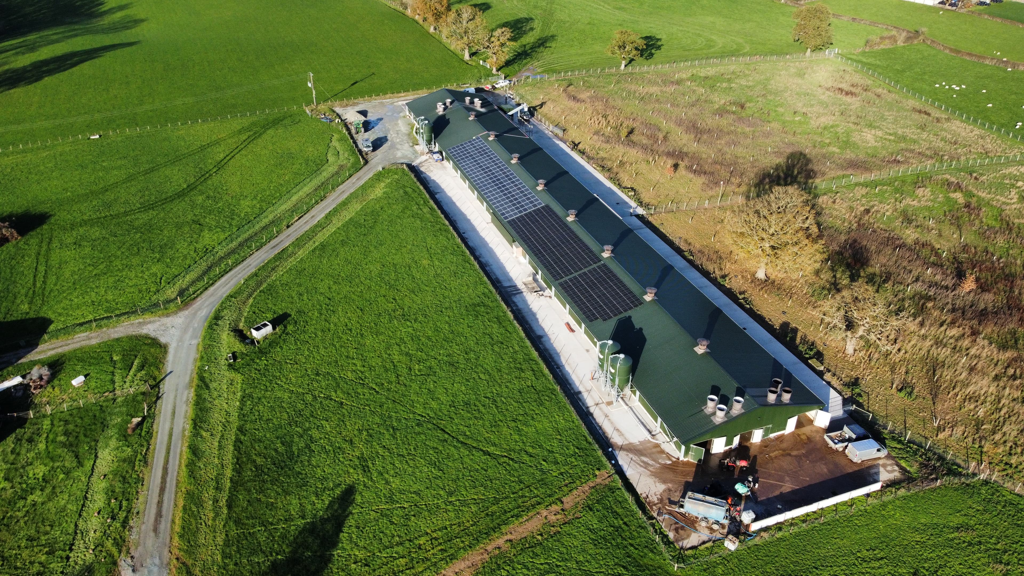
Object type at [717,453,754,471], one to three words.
work vehicle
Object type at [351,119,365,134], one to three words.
work vehicle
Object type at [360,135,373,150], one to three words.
vehicle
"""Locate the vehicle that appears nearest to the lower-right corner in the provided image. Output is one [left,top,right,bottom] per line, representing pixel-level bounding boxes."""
[845,437,890,463]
